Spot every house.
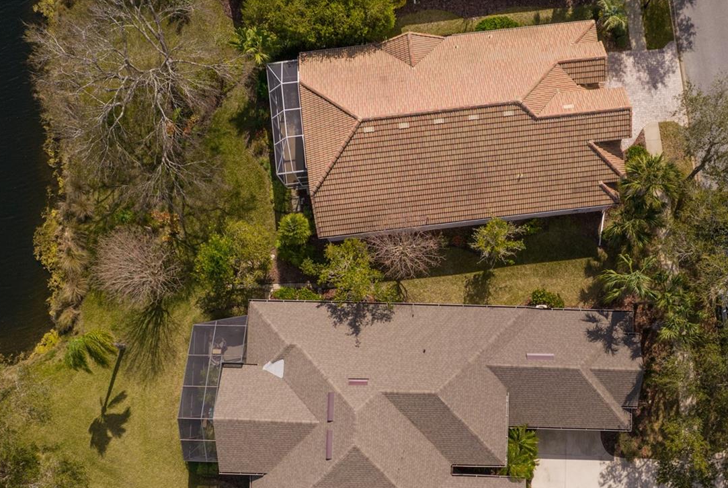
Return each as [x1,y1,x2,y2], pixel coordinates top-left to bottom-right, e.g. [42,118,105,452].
[213,298,644,488]
[297,18,632,246]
